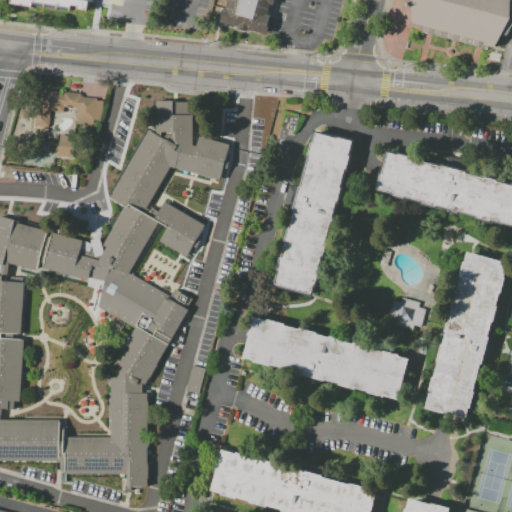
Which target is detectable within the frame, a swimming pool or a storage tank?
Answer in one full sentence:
The image shows a swimming pool.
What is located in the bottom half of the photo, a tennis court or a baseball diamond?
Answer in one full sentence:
The one visible in the bottom half of the photo is a tennis court.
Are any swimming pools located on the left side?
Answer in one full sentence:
No, no swimming pool appears on the left side.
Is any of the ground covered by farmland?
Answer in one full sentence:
No, the scene doesn't show any farmland.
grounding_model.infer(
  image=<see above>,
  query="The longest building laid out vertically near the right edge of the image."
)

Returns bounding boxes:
[424,251,504,418]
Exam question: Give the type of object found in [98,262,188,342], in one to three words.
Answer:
building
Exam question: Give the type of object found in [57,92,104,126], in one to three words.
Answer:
house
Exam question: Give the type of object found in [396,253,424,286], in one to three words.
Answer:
swimming pool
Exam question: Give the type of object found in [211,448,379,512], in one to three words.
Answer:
building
